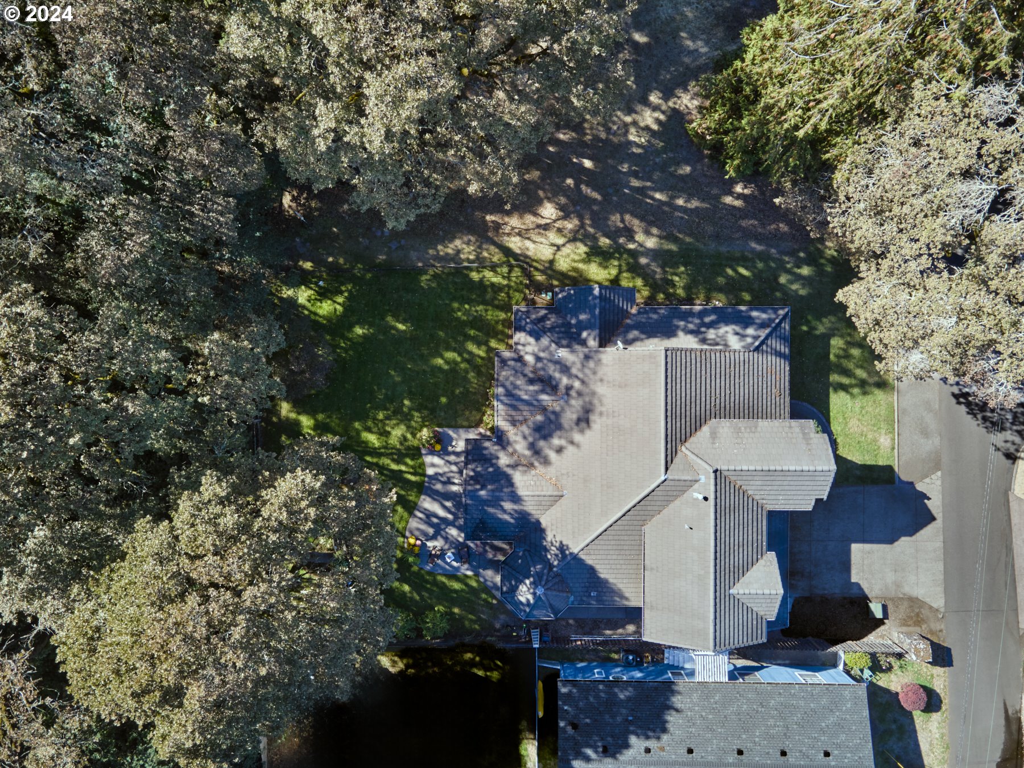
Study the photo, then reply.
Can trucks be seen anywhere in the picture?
No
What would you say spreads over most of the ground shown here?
trees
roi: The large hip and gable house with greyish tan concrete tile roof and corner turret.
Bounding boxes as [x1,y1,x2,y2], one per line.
[462,284,838,653]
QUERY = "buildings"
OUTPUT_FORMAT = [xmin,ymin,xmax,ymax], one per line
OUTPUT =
[557,663,876,768]
[462,284,838,653]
